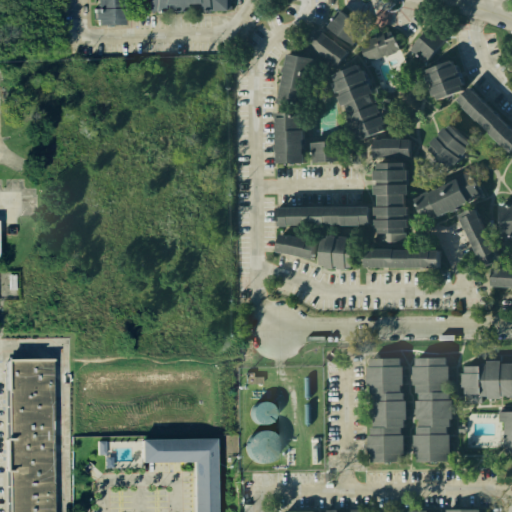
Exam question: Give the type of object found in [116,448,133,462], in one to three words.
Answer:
swimming pool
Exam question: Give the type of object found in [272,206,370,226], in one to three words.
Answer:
building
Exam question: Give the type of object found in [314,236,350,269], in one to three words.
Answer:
building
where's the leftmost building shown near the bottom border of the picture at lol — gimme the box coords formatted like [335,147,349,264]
[6,359,56,512]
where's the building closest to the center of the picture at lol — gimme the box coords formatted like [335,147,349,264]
[270,235,316,260]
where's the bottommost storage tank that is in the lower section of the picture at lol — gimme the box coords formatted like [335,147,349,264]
[245,429,282,464]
